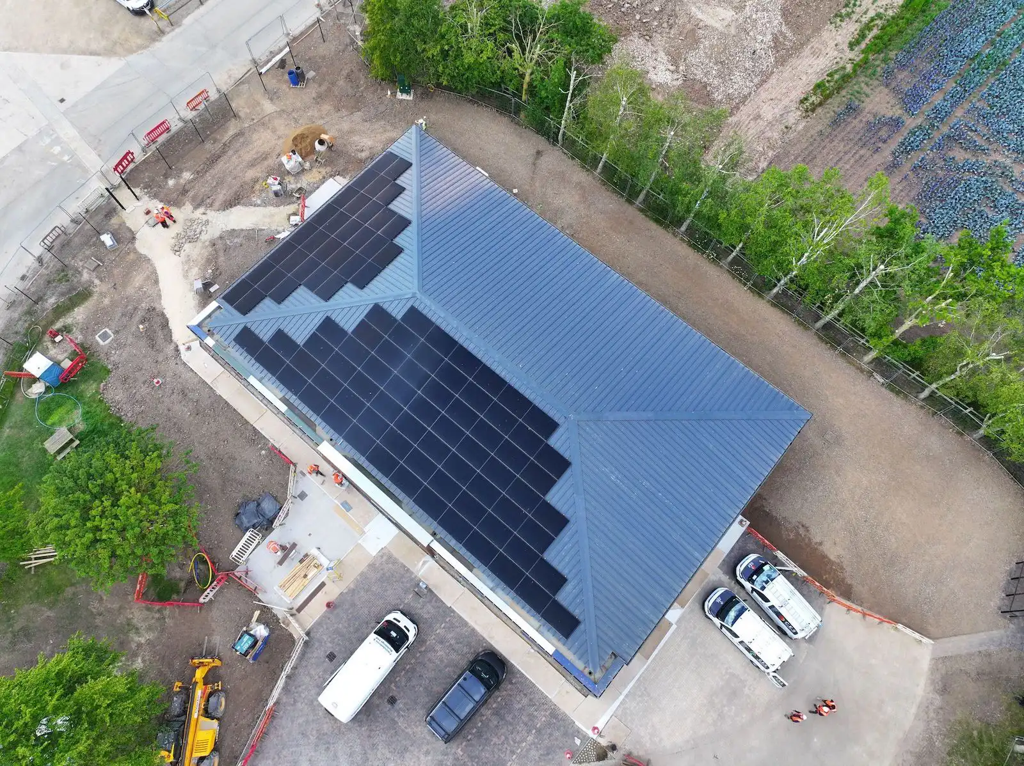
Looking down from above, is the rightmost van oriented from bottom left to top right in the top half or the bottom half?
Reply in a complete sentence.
It is in the bottom half that the rightmost van oriented from bottom left to top right appears.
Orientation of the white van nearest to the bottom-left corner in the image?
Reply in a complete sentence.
In this picture, the white van nearest to the bottom-left corner is oriented diagonally.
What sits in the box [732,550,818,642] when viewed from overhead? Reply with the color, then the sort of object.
white van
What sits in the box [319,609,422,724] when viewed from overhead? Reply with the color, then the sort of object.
white van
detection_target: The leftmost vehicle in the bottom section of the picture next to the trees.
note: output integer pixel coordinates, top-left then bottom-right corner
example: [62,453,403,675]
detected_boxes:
[146,637,224,766]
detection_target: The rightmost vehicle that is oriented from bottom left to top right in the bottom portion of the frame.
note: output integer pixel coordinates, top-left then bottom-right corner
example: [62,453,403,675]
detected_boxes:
[425,648,511,743]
